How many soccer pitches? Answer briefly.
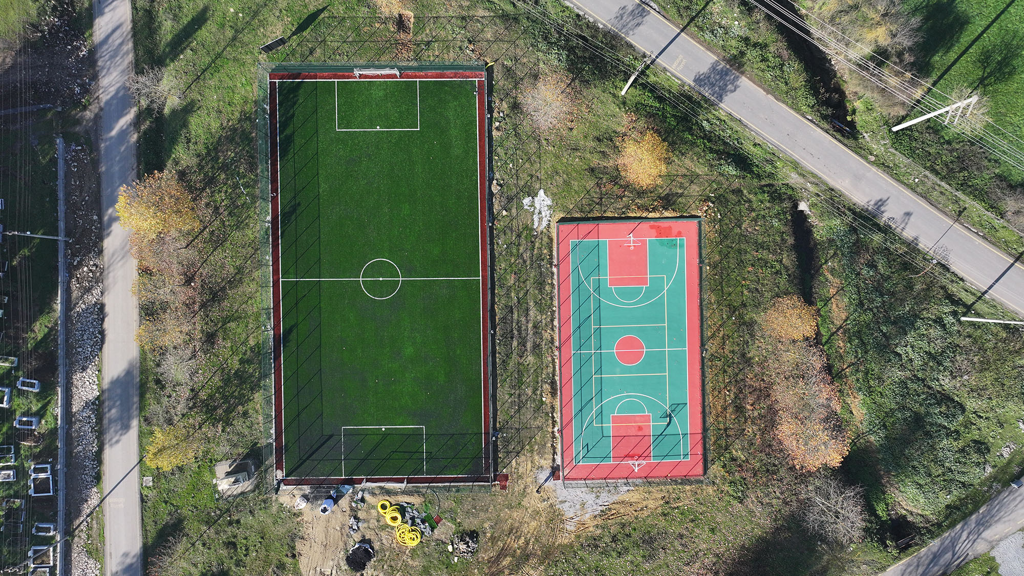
1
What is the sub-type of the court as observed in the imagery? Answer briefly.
basketball court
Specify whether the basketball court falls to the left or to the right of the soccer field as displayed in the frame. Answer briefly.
right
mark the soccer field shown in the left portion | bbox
[268,72,493,487]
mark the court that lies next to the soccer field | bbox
[555,220,706,483]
